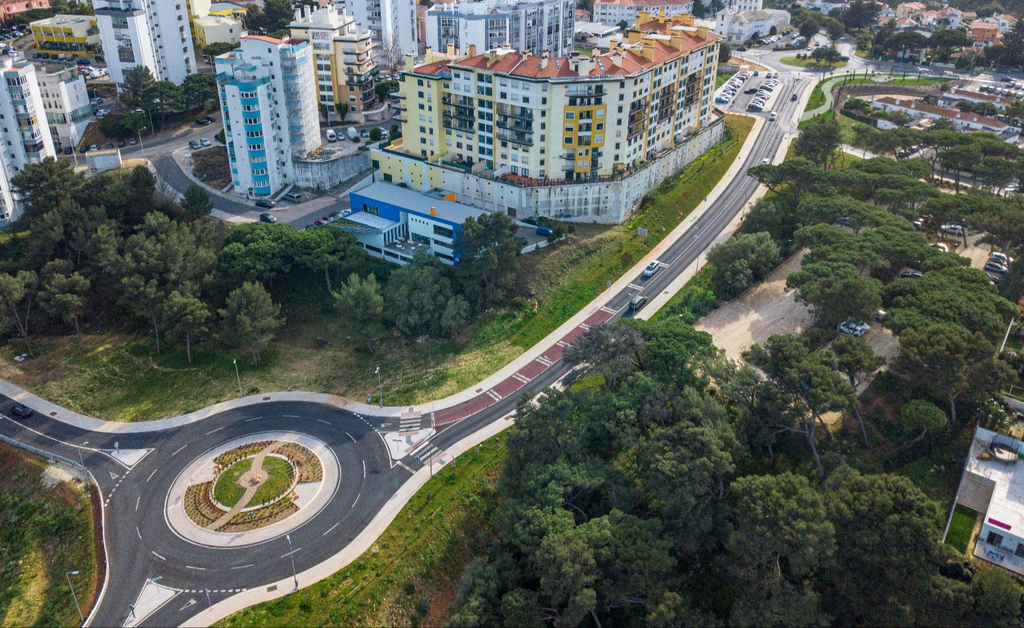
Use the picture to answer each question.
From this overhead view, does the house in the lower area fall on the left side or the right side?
right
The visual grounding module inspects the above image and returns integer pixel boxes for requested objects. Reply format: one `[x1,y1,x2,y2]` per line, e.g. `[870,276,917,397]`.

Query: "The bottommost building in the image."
[952,440,1024,574]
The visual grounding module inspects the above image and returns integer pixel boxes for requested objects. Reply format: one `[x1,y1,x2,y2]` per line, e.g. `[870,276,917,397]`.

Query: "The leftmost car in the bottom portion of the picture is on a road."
[9,405,34,420]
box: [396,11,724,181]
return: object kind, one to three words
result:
building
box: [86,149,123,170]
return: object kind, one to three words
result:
building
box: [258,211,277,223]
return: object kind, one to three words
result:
vehicle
